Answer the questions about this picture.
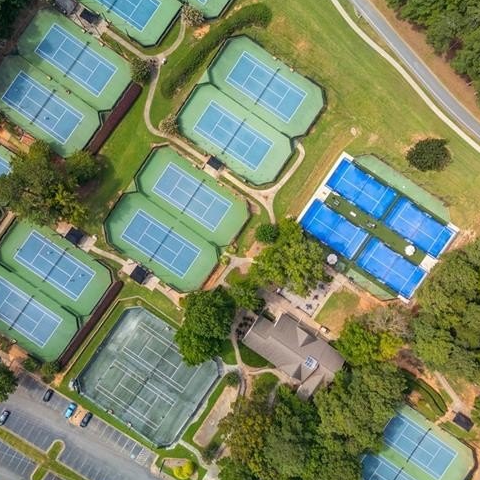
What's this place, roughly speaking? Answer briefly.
sports ground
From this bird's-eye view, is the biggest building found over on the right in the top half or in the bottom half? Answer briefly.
bottom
